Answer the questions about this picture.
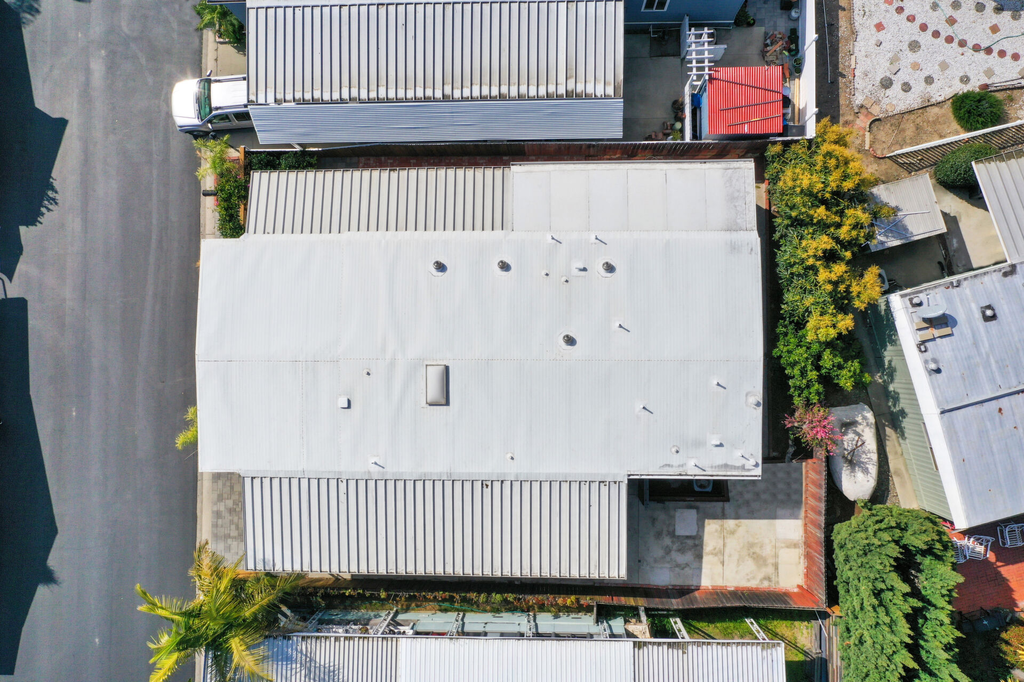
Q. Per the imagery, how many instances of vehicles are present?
1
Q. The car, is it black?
No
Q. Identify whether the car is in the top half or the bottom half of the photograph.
top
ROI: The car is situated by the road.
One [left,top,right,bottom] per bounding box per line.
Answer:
[170,67,255,136]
